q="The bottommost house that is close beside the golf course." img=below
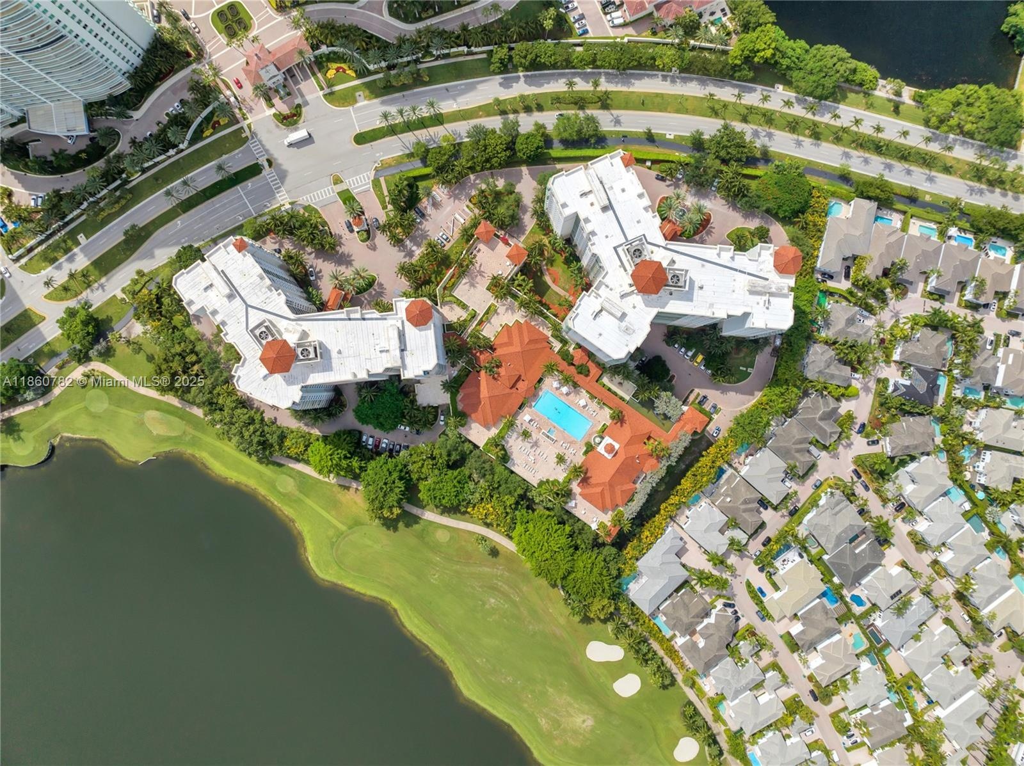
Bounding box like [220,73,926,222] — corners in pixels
[753,707,811,766]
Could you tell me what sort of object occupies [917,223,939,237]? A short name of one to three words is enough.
swimming pool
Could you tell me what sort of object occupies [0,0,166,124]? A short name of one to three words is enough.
building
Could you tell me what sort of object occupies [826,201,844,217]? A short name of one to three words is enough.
swimming pool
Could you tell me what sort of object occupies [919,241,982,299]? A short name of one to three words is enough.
house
